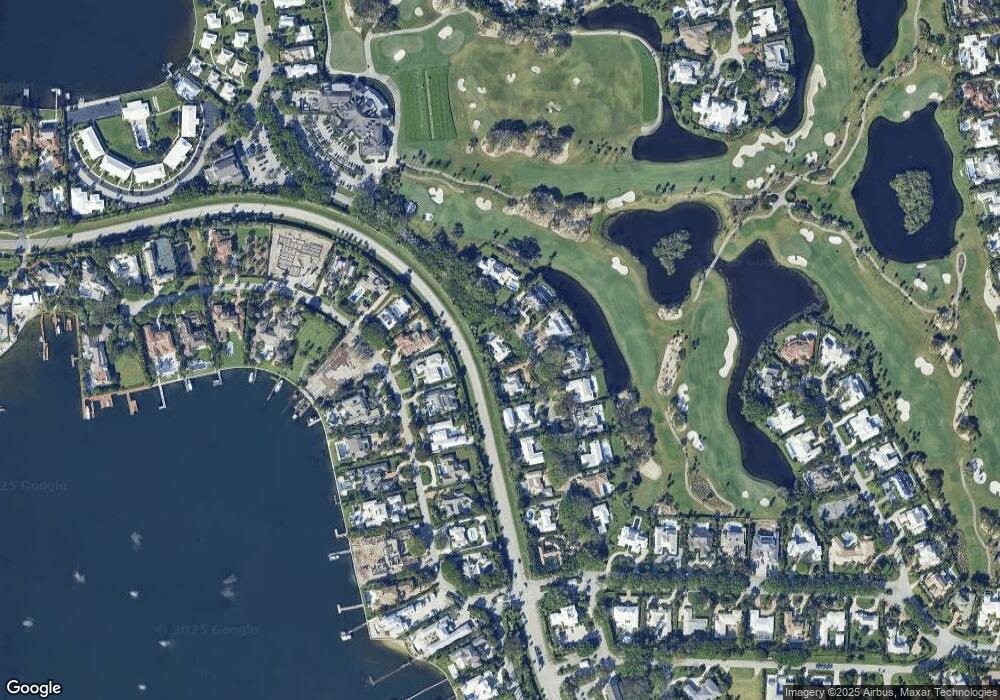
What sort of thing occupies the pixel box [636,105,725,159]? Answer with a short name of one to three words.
pond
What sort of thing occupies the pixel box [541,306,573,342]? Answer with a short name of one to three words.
house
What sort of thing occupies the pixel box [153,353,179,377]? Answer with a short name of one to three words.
swimming pool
